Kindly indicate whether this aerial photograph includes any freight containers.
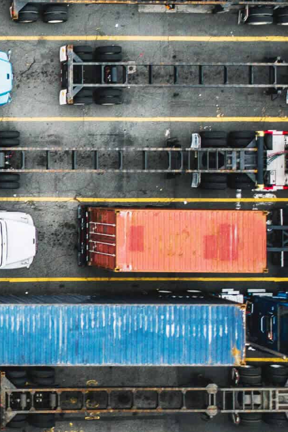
Yes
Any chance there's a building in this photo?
No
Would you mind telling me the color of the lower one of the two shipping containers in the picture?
blue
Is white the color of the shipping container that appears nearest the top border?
No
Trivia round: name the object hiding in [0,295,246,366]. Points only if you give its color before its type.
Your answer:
blue shipping container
